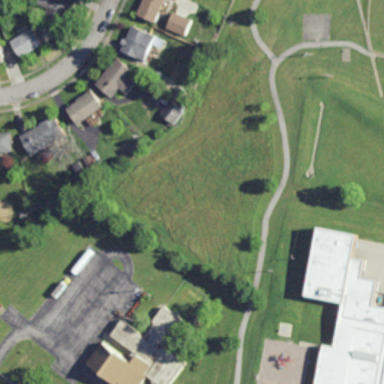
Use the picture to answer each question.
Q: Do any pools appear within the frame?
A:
No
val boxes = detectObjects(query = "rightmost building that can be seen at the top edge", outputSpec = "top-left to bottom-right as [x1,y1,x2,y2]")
[167,13,192,36]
